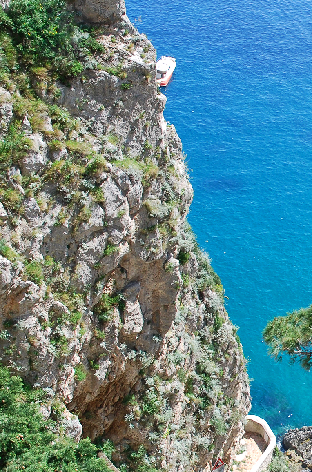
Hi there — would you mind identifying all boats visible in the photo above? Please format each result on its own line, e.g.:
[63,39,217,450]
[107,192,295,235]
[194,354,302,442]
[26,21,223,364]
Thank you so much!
[150,49,174,85]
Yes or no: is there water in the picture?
Yes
